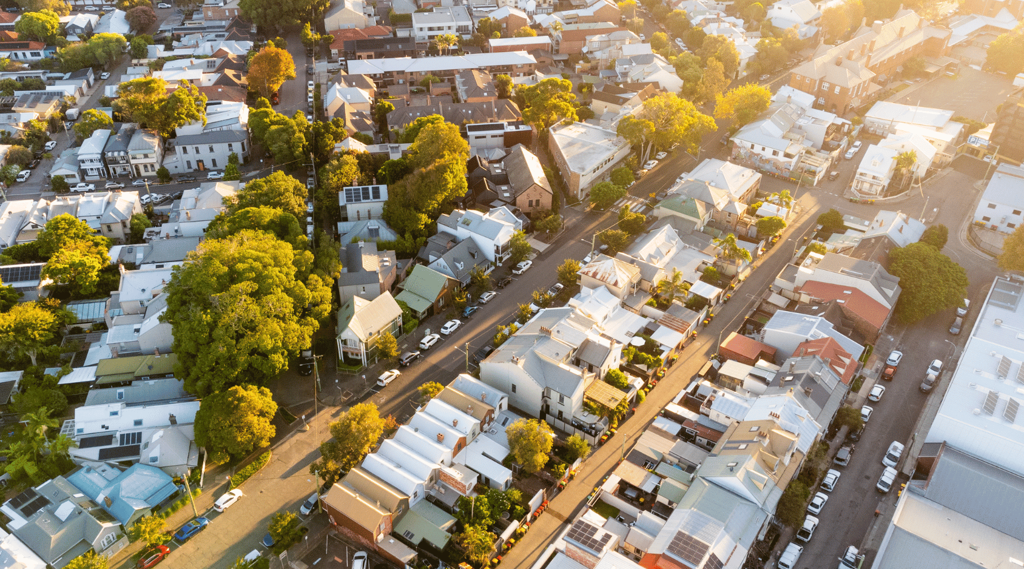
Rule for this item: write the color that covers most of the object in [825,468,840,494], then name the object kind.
white car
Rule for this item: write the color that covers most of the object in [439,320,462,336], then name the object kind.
white car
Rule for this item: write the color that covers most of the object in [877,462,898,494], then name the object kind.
white vehicle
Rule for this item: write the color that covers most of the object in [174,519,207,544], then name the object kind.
blue car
